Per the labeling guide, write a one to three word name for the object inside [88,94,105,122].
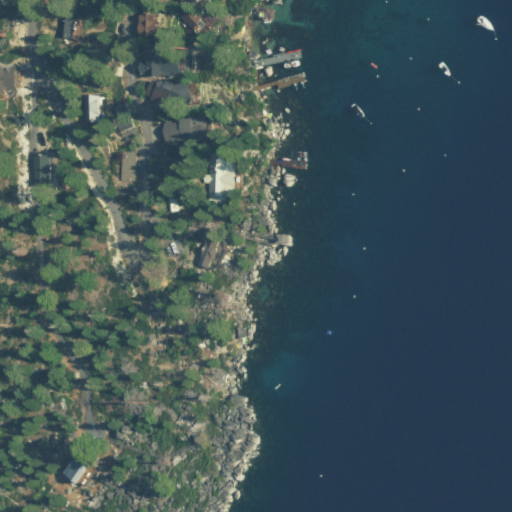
house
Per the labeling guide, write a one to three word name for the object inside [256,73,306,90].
pier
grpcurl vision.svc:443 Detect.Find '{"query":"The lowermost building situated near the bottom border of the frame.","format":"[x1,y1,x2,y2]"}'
[62,460,94,488]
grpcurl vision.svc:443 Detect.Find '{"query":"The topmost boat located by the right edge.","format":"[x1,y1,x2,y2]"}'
[476,15,493,30]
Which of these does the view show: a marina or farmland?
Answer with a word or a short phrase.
marina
